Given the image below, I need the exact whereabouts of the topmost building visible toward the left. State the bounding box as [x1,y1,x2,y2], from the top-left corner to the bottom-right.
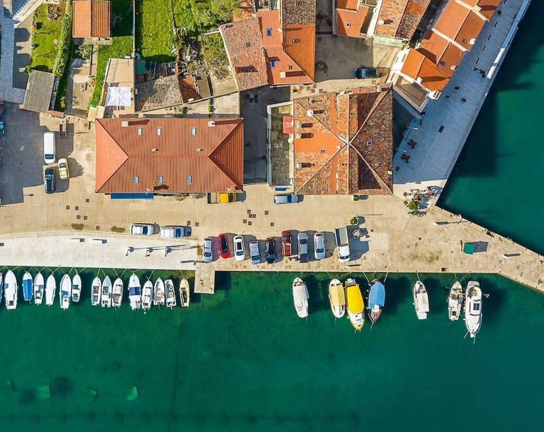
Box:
[72,0,112,37]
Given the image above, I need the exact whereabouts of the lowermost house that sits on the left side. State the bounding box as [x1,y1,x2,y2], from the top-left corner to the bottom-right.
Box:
[95,117,243,193]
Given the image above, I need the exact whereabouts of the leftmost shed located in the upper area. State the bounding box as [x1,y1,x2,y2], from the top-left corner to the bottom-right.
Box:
[22,69,58,112]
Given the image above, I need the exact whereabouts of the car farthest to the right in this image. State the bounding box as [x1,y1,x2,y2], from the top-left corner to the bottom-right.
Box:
[354,66,377,79]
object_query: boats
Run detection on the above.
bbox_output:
[112,267,124,311]
[32,266,45,309]
[366,272,385,325]
[58,273,72,314]
[44,272,57,310]
[462,279,482,338]
[291,271,310,318]
[164,279,177,311]
[3,266,19,313]
[412,272,430,320]
[101,275,113,311]
[21,266,34,304]
[128,269,142,314]
[141,275,154,314]
[446,273,463,325]
[71,266,83,302]
[90,267,102,310]
[344,276,364,332]
[329,273,347,318]
[178,269,190,308]
[153,269,165,310]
